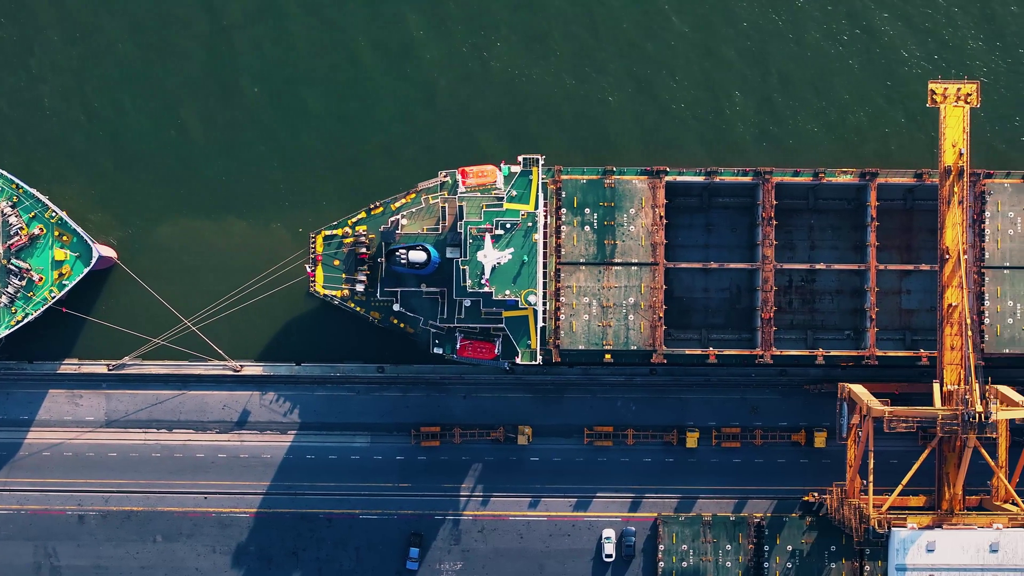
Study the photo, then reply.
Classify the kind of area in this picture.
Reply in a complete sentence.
This image shows a port.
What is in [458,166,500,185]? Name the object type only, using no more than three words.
boat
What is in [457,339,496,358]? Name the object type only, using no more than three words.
boat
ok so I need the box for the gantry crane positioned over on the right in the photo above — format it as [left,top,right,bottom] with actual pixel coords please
[809,80,1024,576]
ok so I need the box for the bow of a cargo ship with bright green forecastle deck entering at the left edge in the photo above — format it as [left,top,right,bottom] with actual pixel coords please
[0,169,118,337]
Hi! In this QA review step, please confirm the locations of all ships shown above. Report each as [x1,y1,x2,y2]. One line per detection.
[0,169,118,337]
[305,155,1024,370]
